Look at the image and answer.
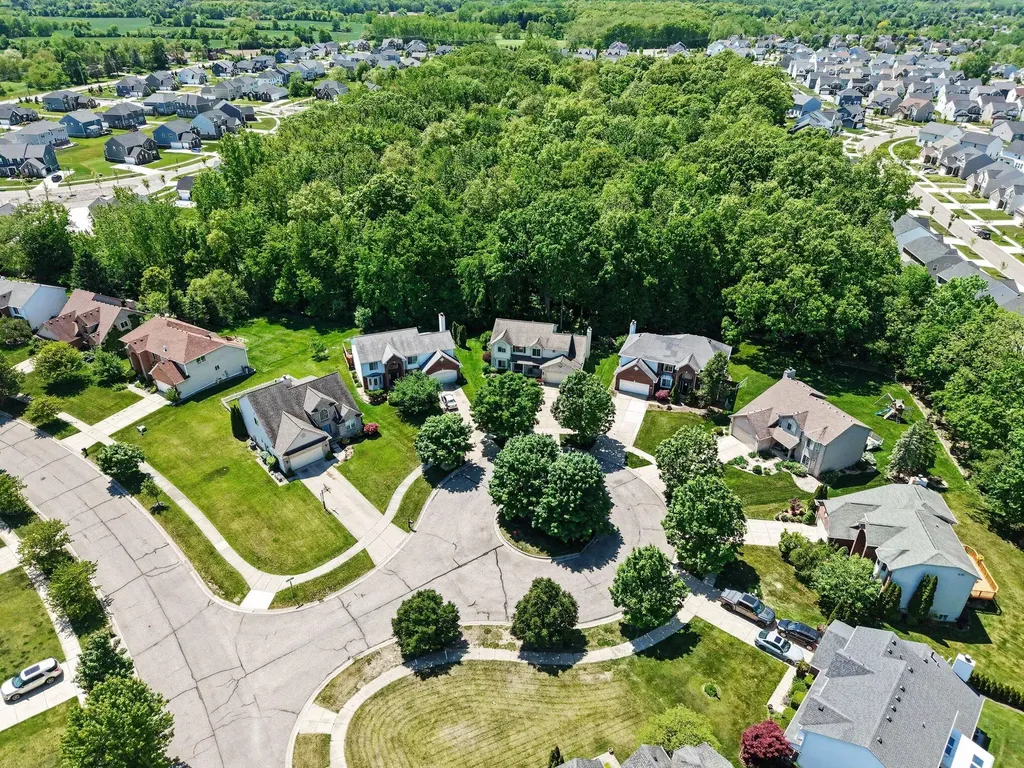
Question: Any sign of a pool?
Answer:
No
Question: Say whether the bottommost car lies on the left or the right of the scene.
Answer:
left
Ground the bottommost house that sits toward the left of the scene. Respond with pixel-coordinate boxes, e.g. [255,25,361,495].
[238,366,371,474]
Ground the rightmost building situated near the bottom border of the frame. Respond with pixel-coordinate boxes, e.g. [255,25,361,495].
[762,614,987,768]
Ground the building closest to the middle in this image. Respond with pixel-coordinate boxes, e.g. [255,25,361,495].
[486,315,590,385]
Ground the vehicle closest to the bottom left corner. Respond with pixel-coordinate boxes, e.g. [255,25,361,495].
[0,658,59,700]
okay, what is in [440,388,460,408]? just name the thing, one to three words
car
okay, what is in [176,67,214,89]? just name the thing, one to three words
house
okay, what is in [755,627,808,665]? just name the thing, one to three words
car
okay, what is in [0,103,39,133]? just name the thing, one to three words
house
